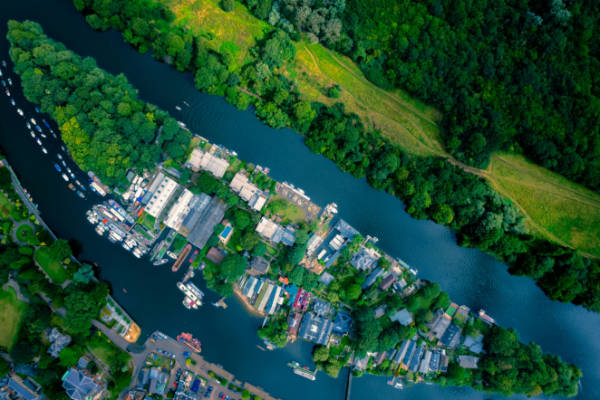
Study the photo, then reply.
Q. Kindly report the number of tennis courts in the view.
0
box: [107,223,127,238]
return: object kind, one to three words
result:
ship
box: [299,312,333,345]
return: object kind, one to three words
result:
building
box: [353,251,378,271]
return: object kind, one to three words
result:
house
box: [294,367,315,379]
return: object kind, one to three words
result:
vessel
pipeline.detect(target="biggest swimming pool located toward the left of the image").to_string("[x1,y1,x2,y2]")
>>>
[217,221,236,243]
